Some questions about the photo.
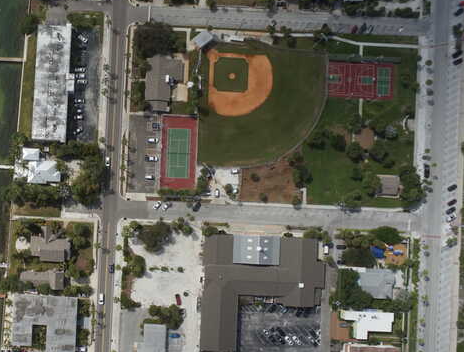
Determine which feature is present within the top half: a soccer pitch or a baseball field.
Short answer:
baseball field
